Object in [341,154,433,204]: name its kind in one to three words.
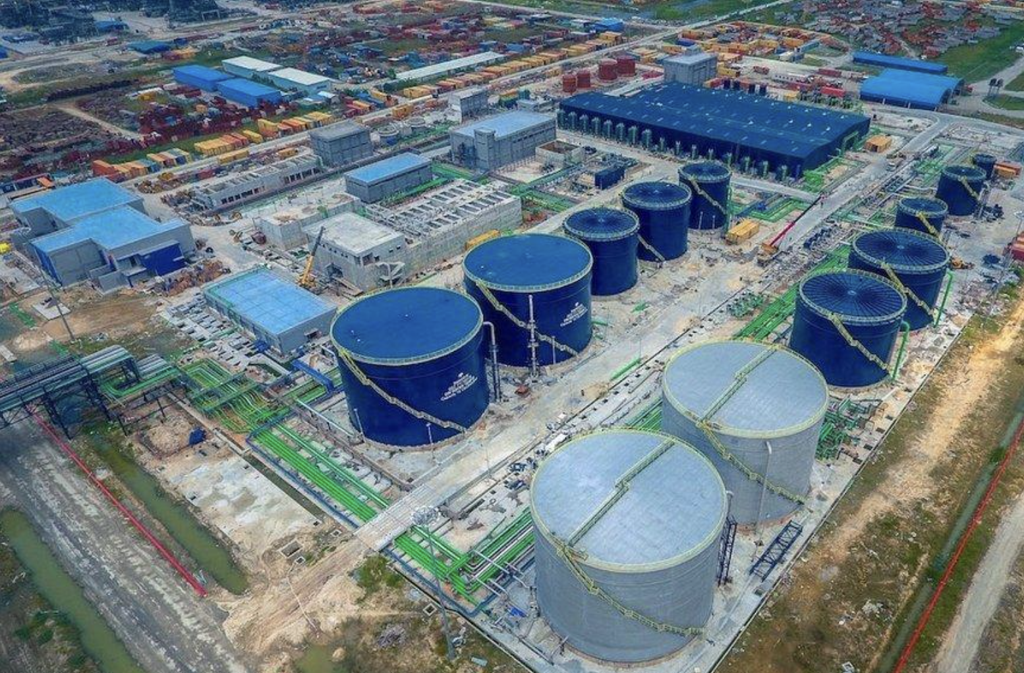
building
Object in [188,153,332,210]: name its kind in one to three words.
building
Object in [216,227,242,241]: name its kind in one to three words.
work vehicle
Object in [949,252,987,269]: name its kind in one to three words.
work vehicle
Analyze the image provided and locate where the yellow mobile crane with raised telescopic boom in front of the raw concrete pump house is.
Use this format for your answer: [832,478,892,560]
[292,225,326,286]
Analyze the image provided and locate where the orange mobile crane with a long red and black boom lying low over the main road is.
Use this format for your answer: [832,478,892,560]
[749,193,822,262]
